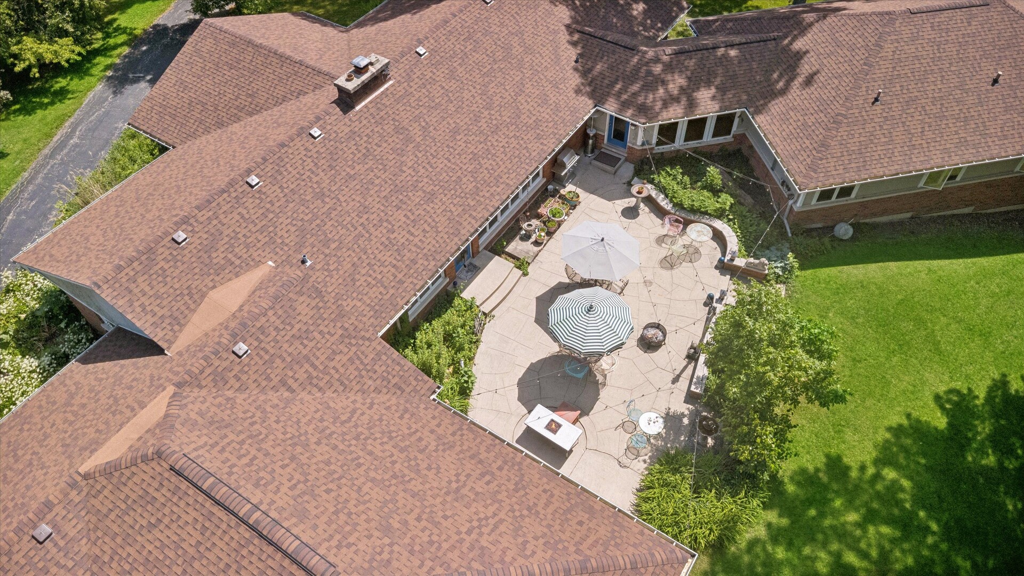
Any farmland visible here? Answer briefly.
No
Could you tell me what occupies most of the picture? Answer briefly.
buildings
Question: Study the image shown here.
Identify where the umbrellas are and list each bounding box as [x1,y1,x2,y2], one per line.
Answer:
[560,221,640,283]
[550,287,633,365]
